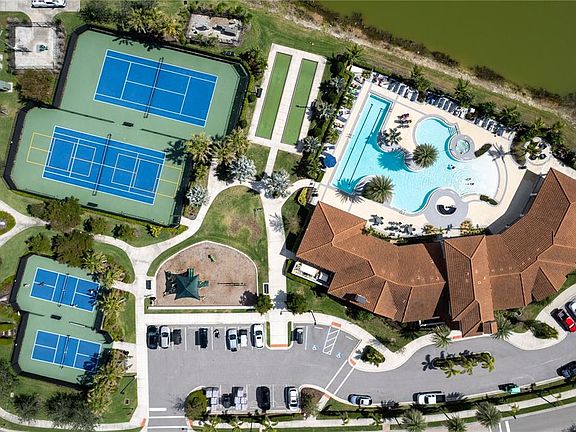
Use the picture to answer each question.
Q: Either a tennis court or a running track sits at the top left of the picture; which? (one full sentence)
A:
You can see a tennis court at the top left of the picture.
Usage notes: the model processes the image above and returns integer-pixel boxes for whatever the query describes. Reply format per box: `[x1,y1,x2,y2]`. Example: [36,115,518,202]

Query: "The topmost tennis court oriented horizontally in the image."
[58,30,248,148]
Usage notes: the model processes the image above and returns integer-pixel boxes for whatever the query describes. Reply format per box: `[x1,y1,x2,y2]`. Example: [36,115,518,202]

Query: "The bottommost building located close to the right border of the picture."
[442,168,576,338]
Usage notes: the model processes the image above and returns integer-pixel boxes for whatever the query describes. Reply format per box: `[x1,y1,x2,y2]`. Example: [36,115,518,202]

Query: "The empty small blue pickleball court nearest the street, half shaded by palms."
[20,315,112,392]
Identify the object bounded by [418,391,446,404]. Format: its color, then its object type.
white vehicle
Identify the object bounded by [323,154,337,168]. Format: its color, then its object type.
blue umbrella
